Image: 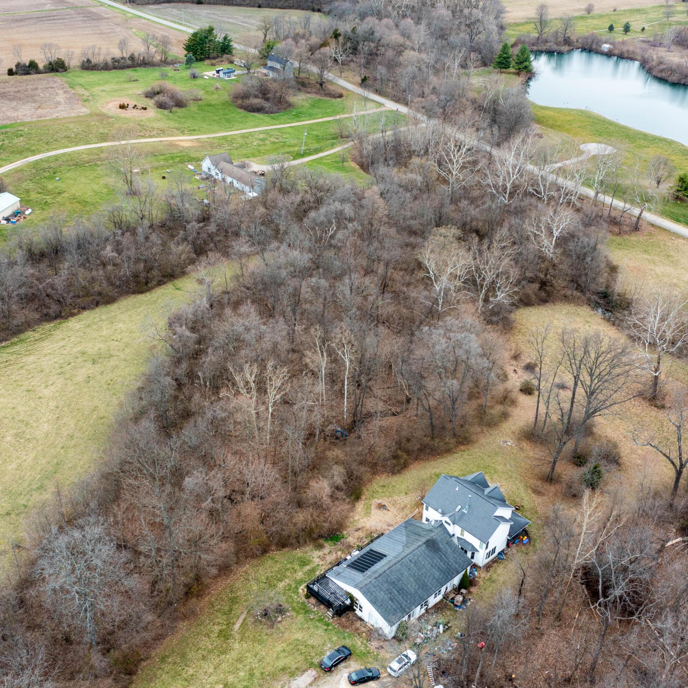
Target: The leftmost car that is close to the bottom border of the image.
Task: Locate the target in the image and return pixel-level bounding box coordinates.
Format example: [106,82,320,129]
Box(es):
[320,647,351,673]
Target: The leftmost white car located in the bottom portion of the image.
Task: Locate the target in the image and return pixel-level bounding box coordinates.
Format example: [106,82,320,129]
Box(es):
[387,651,417,677]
